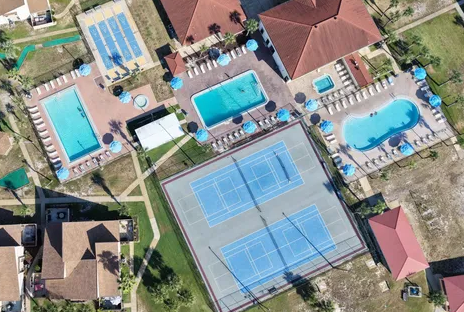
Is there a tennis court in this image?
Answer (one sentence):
Yes, the frame does contain a tennis court.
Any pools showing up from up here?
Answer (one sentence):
Yes, there is a pool in the image.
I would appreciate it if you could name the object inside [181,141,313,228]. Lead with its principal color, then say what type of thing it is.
blue tennis court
